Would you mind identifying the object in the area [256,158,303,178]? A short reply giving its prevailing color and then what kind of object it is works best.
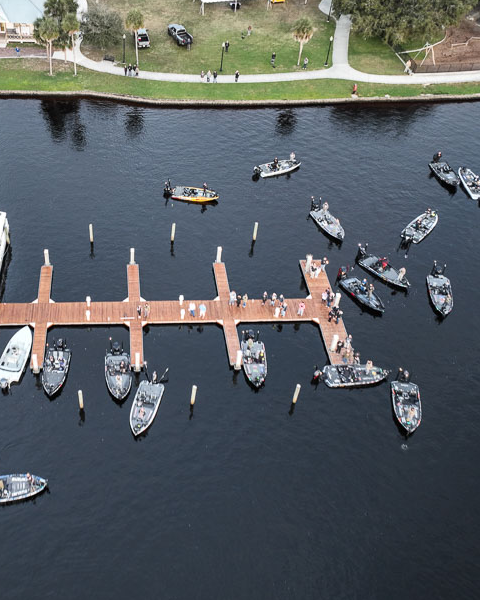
white boat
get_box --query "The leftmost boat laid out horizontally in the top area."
[166,177,221,203]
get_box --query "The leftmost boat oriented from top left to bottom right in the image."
[308,198,346,242]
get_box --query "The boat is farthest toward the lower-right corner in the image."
[393,367,421,435]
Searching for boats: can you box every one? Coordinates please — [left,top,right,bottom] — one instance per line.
[130,367,170,437]
[256,158,303,178]
[41,334,70,398]
[398,209,439,247]
[458,164,480,202]
[242,326,267,390]
[166,177,221,203]
[430,154,463,191]
[340,265,388,316]
[106,340,131,404]
[393,367,421,435]
[360,244,413,291]
[317,360,389,388]
[308,198,346,242]
[0,324,33,390]
[428,262,452,317]
[0,475,48,505]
